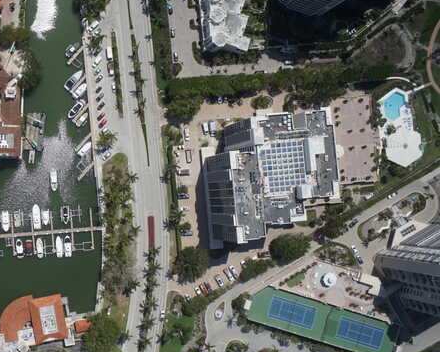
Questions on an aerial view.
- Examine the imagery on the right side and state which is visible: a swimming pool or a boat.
swimming pool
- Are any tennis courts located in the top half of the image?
No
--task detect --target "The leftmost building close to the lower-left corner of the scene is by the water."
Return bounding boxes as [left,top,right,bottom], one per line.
[0,294,68,352]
